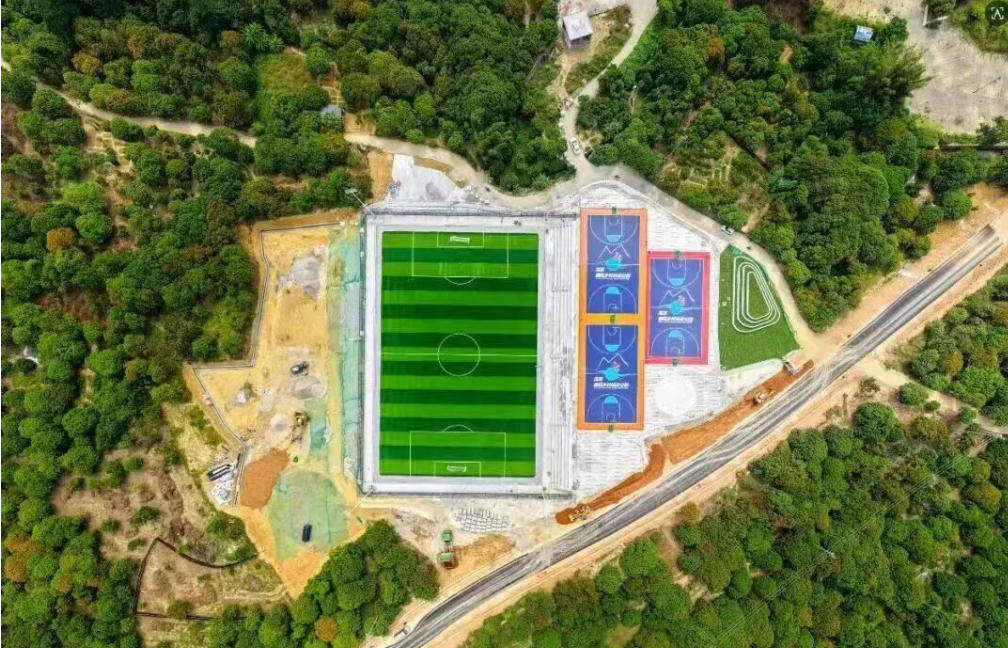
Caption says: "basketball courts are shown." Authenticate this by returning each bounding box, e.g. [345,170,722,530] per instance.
[579,208,648,319]
[646,252,710,364]
[578,319,646,430]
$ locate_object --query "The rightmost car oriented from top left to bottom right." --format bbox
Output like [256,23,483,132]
[720,224,736,236]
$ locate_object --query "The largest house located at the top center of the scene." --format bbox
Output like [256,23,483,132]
[567,10,598,47]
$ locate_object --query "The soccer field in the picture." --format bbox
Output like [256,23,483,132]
[380,231,537,476]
